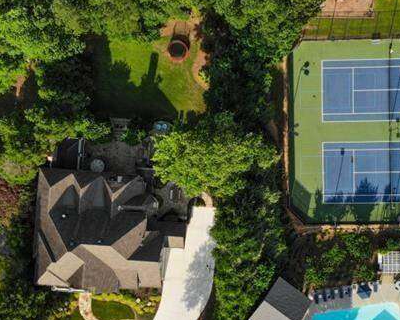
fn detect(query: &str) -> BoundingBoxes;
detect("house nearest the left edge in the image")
[34,138,184,293]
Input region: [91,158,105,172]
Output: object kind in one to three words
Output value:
umbrella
